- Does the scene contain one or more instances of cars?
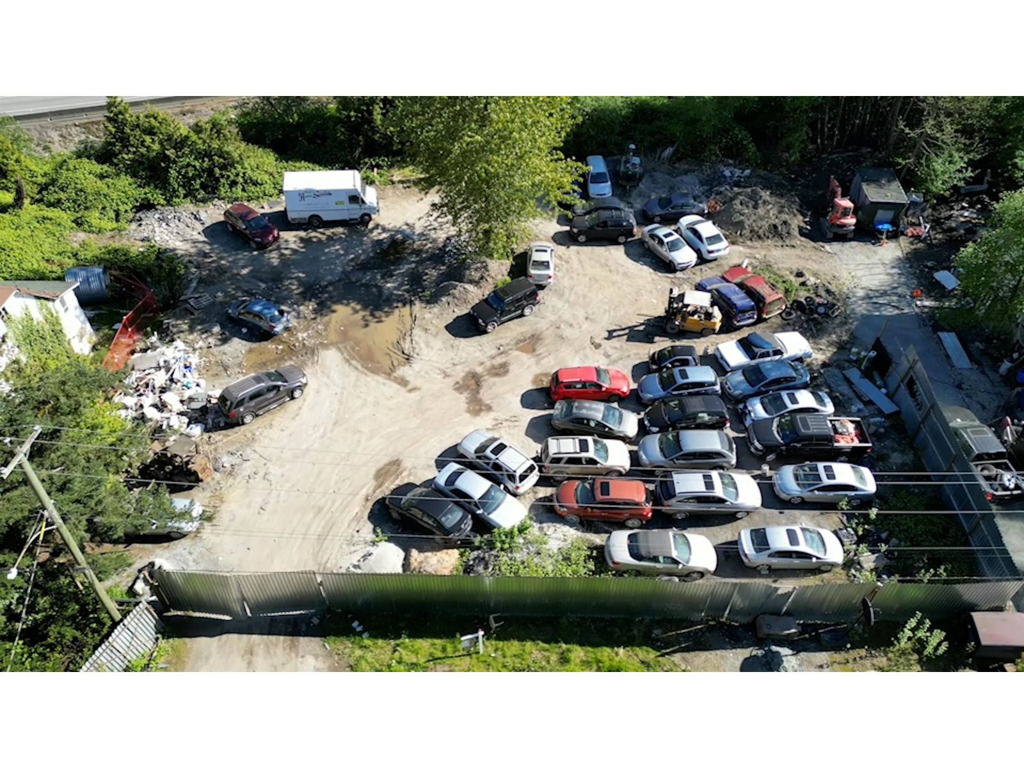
Yes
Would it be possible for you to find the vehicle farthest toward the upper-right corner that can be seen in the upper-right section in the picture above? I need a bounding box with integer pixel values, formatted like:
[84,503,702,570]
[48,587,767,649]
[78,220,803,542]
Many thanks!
[819,169,856,234]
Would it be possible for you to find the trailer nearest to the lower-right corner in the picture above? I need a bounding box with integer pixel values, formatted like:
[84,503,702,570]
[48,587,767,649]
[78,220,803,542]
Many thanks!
[964,611,1024,667]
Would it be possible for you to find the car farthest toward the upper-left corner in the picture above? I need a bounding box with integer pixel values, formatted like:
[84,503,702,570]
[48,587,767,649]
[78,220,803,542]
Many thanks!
[222,204,279,250]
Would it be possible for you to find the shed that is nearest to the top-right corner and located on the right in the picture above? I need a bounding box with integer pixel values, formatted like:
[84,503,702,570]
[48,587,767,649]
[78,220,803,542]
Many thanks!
[843,159,923,232]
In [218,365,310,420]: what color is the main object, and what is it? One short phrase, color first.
gray car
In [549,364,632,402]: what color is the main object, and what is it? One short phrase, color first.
red car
